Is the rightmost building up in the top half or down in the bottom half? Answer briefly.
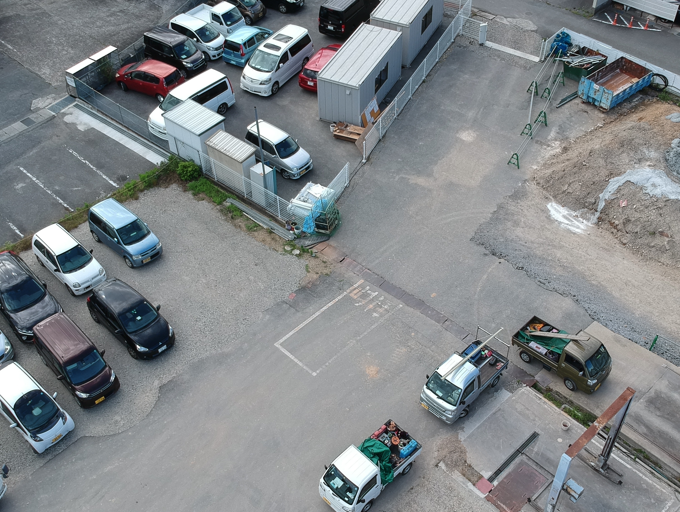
top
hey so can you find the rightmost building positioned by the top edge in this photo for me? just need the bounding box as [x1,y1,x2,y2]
[370,0,444,67]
